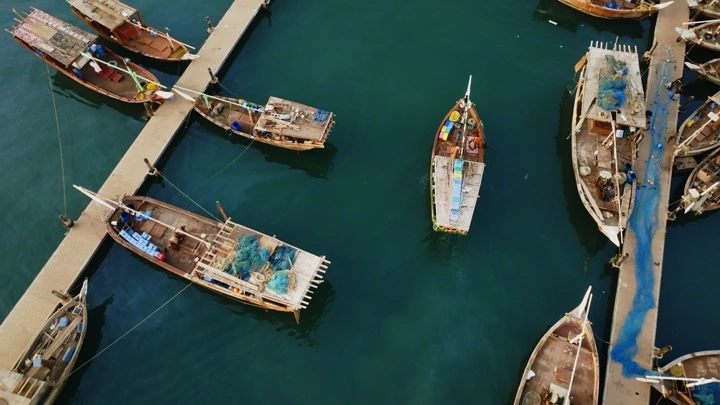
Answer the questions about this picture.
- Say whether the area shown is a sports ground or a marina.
marina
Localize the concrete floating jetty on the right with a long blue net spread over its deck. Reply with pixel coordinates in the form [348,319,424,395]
[600,0,689,405]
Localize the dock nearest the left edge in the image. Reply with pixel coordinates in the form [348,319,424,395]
[0,0,263,380]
